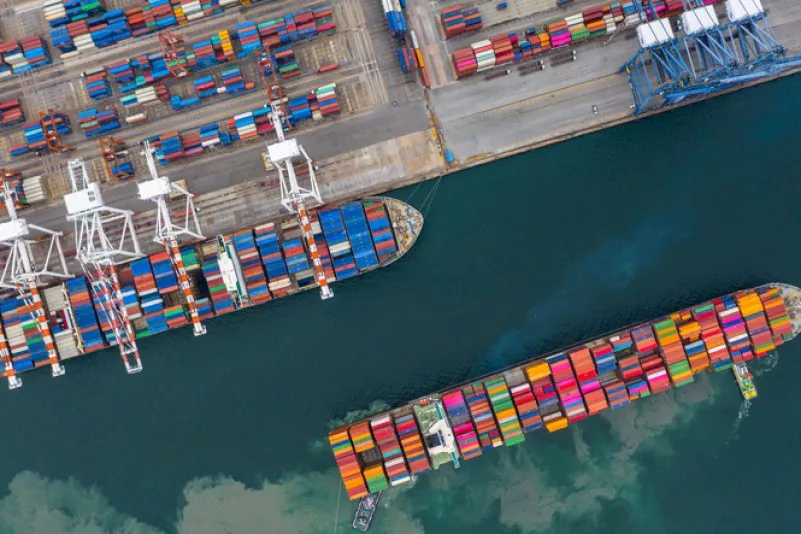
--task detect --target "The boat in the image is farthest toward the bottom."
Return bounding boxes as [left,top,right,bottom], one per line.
[352,490,383,533]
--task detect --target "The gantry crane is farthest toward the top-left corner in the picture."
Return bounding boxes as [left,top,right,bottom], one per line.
[41,109,86,159]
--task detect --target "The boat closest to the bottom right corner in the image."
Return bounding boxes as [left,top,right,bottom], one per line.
[733,363,757,401]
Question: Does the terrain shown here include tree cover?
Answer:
No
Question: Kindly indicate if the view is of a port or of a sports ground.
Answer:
port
